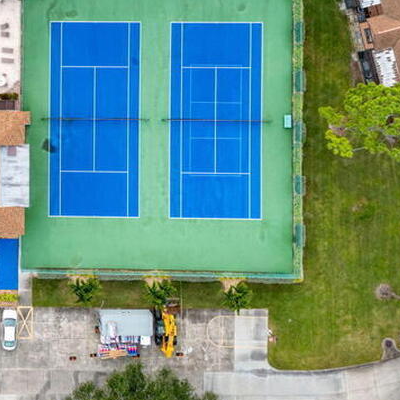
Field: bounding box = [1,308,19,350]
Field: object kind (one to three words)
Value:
car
